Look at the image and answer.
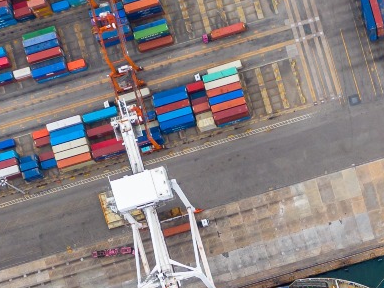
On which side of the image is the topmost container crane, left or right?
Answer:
left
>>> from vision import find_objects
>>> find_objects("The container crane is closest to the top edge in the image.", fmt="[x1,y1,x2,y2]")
[84,0,146,77]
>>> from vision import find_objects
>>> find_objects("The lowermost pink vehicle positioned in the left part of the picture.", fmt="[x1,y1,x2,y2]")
[90,240,134,260]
